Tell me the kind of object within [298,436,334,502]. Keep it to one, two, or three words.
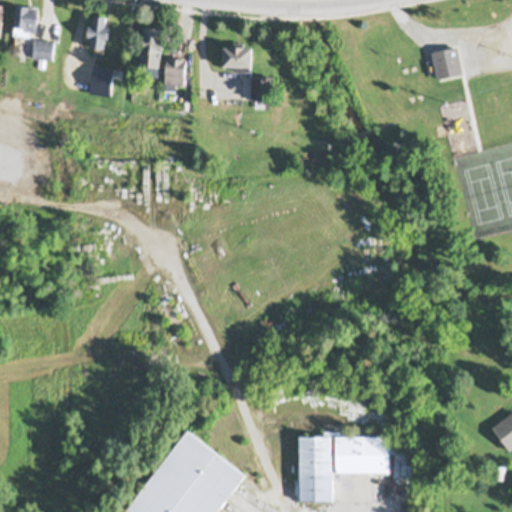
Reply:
shed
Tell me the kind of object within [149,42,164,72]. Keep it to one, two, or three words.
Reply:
house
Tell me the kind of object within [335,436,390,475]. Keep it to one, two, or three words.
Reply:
building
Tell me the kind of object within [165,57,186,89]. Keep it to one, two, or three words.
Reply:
house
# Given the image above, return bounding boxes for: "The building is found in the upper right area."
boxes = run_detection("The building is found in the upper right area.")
[433,48,463,82]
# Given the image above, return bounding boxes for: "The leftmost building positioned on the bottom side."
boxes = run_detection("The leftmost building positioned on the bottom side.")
[128,432,245,512]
